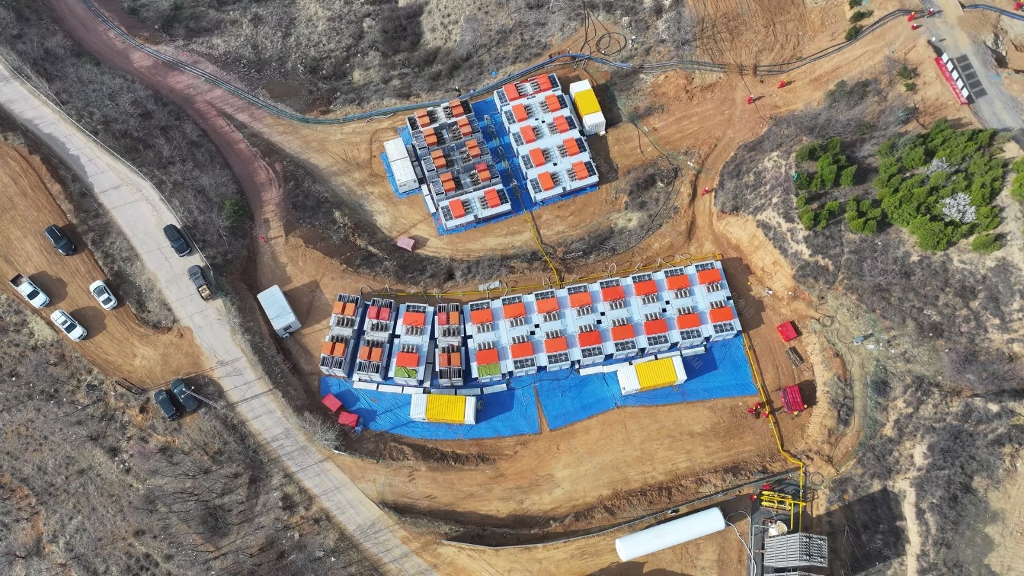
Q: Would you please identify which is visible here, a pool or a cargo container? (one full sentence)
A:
This aerial view contains a cargo container.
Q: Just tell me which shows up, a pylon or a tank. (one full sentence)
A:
This aerial view contains a tank.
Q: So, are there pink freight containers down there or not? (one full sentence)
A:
No, there appears to be no pink freight container in this shot.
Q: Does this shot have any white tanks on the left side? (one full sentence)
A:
No, there's no white tank to be seen on the left side.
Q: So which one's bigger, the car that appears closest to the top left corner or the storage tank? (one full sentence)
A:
The storage tank covers a greater area than the car.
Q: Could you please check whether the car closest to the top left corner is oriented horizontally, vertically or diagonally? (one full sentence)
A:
In this picture, the car closest to the top left corner lies diagonally.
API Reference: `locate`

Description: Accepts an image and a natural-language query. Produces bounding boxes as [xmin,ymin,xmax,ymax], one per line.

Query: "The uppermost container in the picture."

[567,79,608,140]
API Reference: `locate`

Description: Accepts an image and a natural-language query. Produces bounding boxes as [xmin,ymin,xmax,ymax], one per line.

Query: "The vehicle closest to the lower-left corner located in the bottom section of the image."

[149,388,182,428]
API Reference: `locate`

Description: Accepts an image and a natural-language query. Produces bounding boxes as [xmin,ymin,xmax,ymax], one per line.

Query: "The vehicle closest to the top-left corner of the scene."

[42,223,81,260]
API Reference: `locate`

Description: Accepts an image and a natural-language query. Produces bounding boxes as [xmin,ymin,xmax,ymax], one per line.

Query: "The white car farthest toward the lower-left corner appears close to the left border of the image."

[49,308,92,345]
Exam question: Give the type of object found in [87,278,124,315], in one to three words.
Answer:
car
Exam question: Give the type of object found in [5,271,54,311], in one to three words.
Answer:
truck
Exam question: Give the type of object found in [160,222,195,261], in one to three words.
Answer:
car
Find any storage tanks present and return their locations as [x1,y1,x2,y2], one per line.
[614,507,733,562]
